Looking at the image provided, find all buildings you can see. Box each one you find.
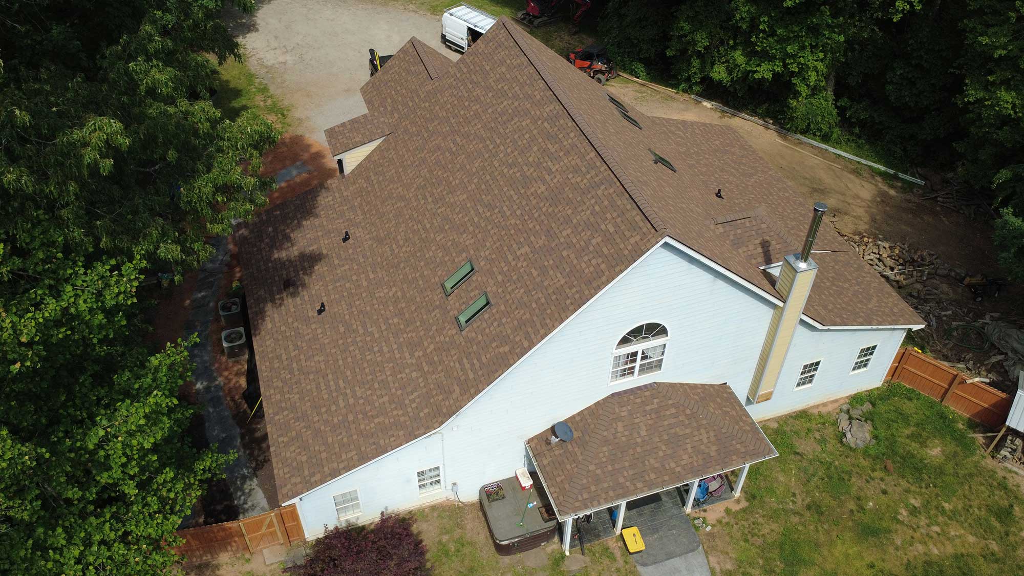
[235,16,925,555]
[987,375,1024,455]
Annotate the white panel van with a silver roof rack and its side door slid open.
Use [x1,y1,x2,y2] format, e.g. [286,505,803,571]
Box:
[440,2,498,50]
